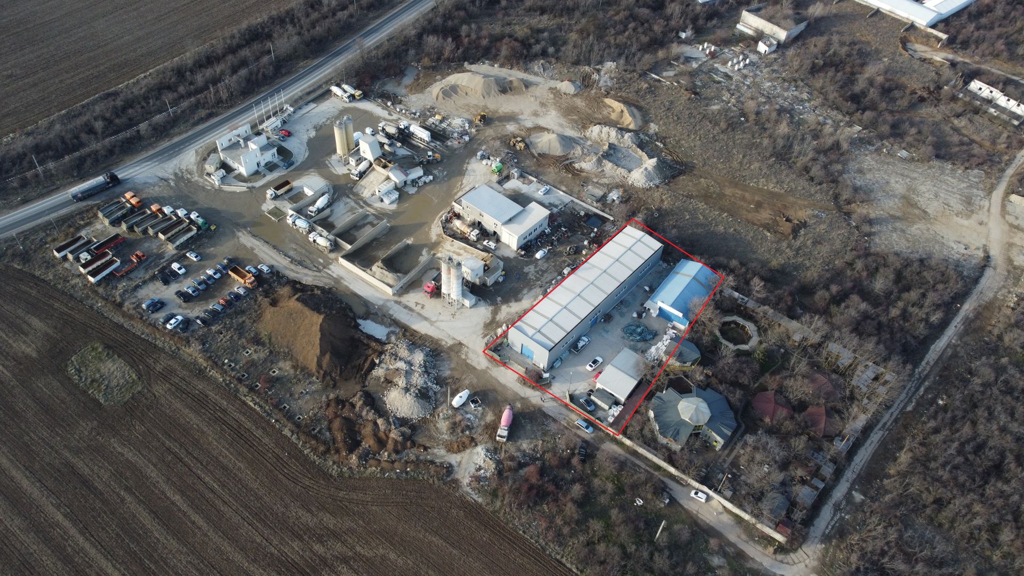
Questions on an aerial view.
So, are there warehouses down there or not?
Yes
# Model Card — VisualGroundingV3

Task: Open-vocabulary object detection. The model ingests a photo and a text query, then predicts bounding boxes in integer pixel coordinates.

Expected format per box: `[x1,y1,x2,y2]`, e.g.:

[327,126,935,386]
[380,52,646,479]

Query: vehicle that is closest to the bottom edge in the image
[689,490,709,504]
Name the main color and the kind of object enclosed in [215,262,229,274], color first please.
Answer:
blue vehicle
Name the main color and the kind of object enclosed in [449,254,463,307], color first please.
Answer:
white silo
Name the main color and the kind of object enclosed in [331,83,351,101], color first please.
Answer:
white vehicle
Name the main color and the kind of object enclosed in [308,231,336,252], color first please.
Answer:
white truck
